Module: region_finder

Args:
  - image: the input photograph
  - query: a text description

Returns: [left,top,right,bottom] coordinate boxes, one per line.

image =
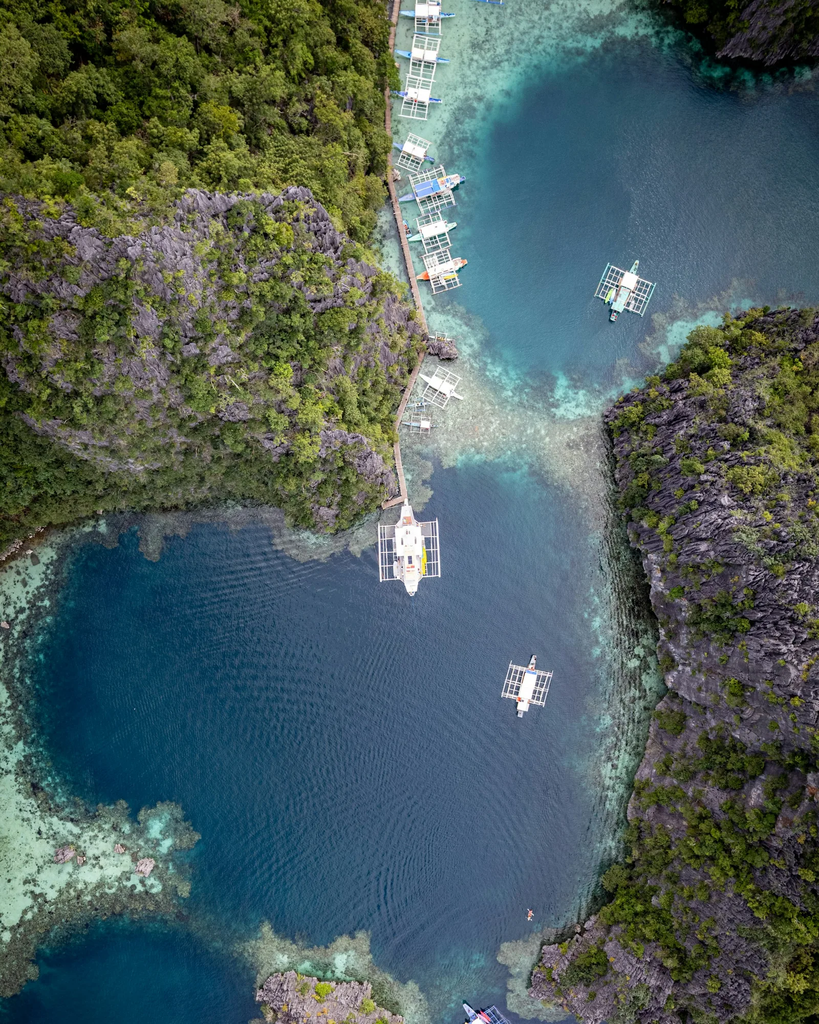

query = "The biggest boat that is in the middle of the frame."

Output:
[374,499,441,596]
